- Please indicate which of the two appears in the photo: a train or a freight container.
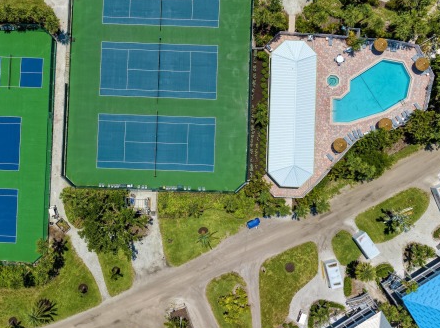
freight container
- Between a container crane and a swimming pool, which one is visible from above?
swimming pool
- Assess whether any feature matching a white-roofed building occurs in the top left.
No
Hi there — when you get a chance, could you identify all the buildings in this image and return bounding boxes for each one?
[375,239,440,328]
[316,282,392,328]
[266,40,317,188]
